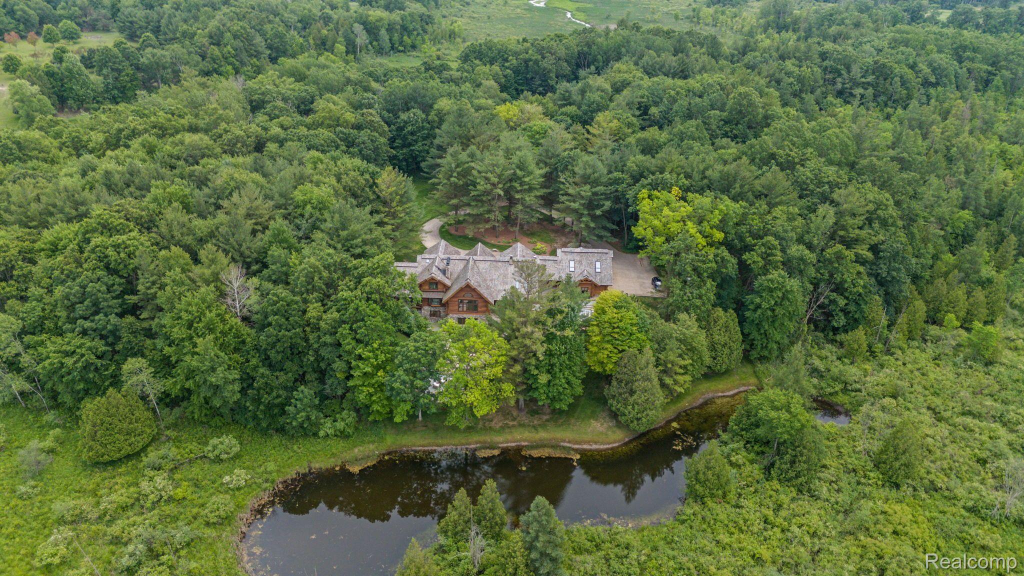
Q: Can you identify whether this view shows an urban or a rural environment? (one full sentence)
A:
The land in this view is best described as rural.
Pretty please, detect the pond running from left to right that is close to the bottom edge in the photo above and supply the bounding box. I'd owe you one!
[243,389,777,576]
